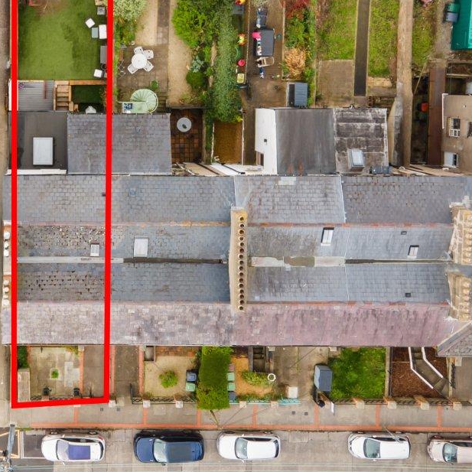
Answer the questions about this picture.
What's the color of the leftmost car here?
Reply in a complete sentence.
The color of the leftmost car is white.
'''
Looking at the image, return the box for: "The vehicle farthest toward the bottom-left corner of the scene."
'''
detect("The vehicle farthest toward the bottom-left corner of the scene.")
[43,431,106,466]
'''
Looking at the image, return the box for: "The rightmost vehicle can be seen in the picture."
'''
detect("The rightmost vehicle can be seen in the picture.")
[425,433,472,467]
